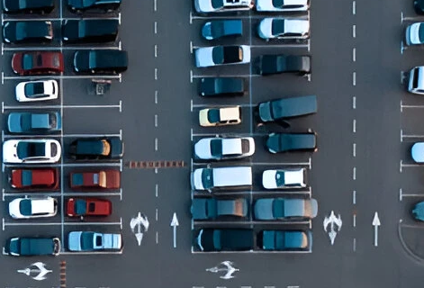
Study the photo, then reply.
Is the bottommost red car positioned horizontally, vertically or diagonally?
horizontally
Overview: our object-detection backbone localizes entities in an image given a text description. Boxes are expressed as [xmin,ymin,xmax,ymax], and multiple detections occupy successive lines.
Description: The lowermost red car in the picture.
[65,195,112,219]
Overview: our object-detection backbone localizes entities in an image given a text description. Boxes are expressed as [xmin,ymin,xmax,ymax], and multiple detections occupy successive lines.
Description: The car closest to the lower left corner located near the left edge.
[6,234,60,260]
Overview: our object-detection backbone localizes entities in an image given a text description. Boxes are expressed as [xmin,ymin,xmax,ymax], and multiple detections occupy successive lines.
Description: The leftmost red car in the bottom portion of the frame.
[9,167,59,191]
